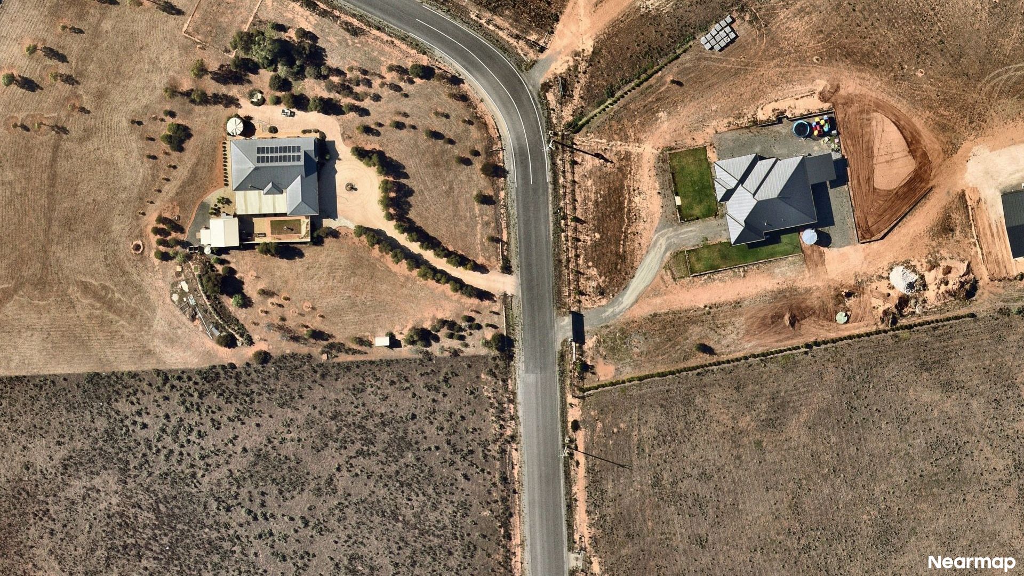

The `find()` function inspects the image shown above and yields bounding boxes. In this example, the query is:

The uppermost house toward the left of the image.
[231,138,319,215]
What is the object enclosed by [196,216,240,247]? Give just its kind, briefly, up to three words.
shed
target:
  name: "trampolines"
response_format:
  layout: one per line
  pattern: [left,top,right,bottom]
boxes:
[793,121,810,138]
